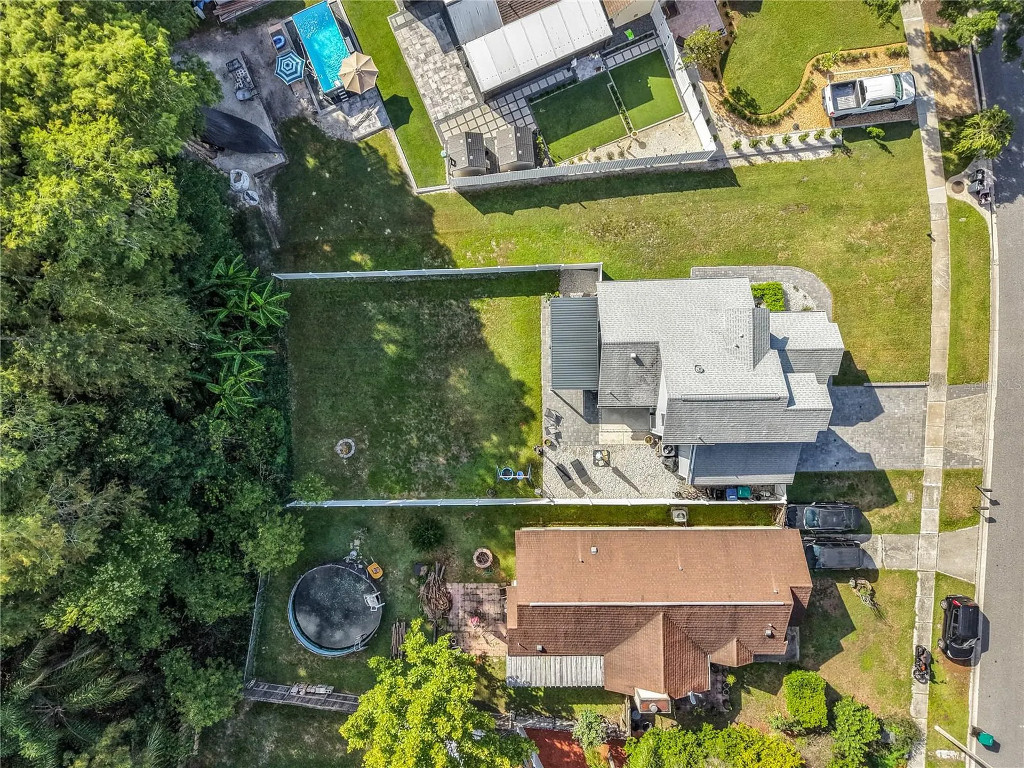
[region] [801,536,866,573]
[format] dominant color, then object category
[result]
gray car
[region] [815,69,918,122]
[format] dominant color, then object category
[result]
white truck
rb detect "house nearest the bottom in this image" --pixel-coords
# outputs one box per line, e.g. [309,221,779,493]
[507,525,813,715]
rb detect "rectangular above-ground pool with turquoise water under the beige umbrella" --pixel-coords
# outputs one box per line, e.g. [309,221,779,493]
[292,0,350,104]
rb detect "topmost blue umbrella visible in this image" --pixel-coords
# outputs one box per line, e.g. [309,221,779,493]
[276,53,306,86]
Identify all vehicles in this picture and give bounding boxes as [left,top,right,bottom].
[936,592,983,665]
[782,499,865,538]
[801,536,866,573]
[815,69,918,122]
[916,647,934,686]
